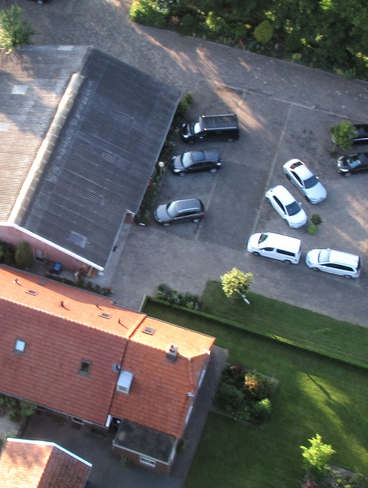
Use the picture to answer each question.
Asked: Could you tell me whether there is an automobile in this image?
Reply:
Yes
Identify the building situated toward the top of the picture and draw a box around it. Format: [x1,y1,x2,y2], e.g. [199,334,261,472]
[0,46,179,279]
